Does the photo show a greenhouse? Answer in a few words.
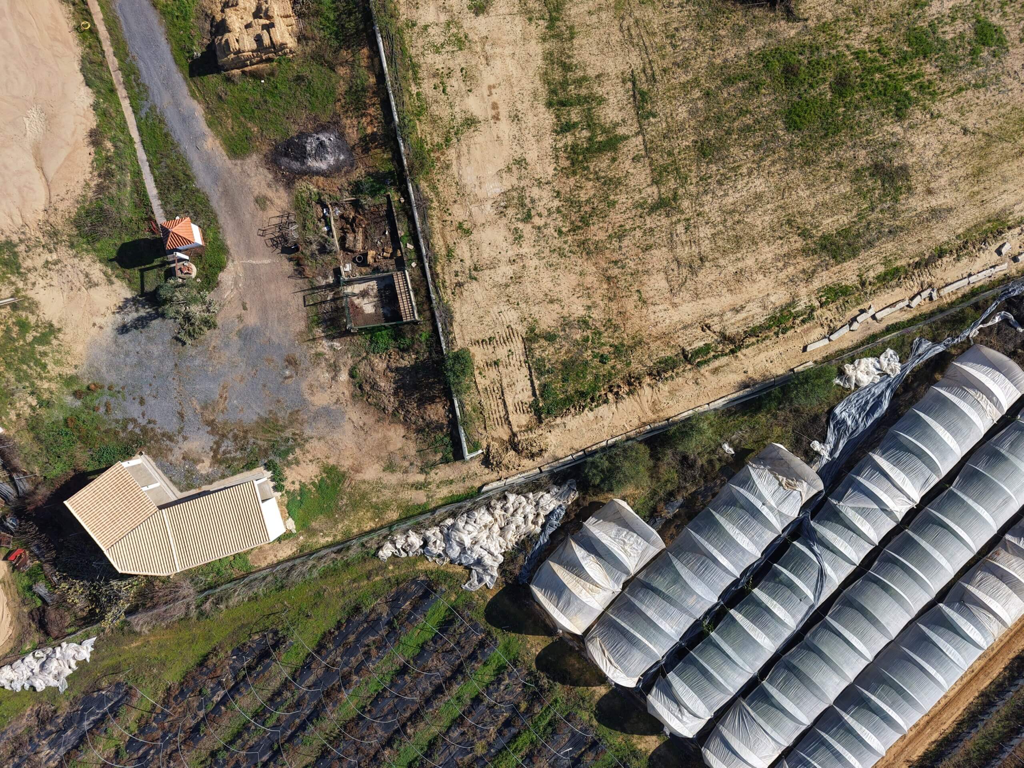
Yes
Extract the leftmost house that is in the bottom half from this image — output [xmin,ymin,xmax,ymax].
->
[62,449,285,576]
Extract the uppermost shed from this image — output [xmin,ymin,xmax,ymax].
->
[160,216,211,256]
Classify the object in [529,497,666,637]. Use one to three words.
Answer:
greenhouse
